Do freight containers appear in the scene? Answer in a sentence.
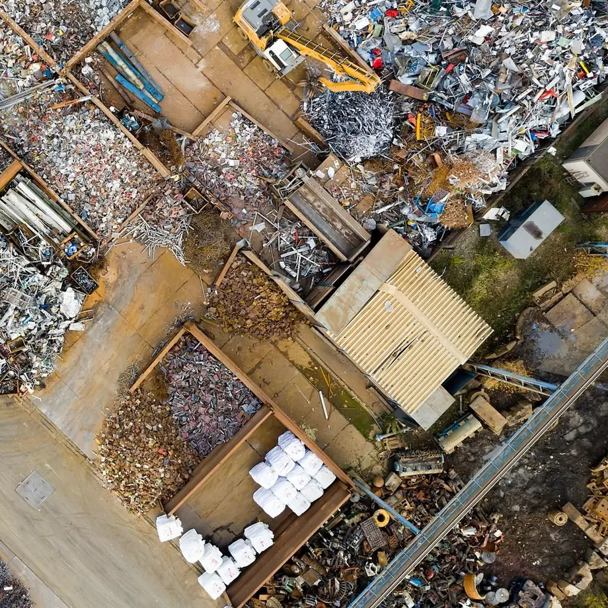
Yes, there is a freight container in the image.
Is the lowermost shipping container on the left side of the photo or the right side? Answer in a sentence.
It is on the right.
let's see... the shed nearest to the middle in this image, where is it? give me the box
[312,228,494,429]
